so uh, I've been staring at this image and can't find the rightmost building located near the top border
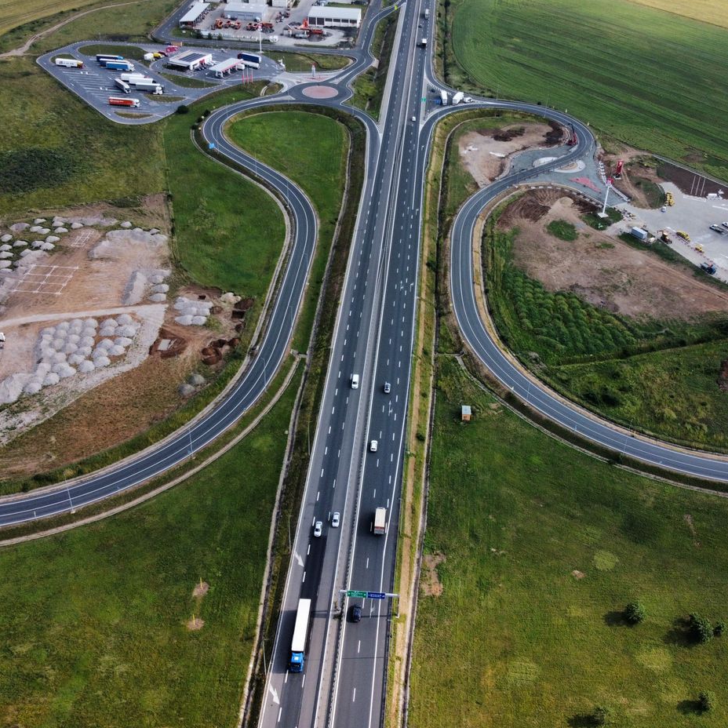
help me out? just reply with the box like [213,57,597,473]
[307,7,366,28]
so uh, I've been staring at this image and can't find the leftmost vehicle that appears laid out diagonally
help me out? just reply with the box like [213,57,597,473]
[114,77,131,94]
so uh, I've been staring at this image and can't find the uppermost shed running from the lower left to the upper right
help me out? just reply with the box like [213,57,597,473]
[178,1,210,28]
